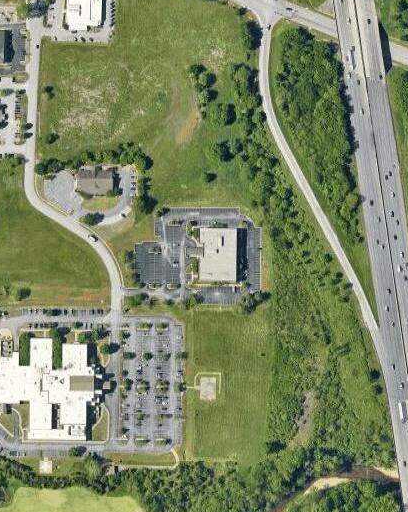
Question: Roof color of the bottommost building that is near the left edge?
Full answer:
From above, the roof of the bottommost building that is near the left edge looks white.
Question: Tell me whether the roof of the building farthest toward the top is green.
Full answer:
No, the roof of the building farthest toward the top is actually white.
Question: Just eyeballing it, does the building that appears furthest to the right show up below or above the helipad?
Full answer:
In the image, the building that appears furthest to the right appears above the helipad.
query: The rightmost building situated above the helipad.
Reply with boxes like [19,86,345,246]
[199,228,238,281]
